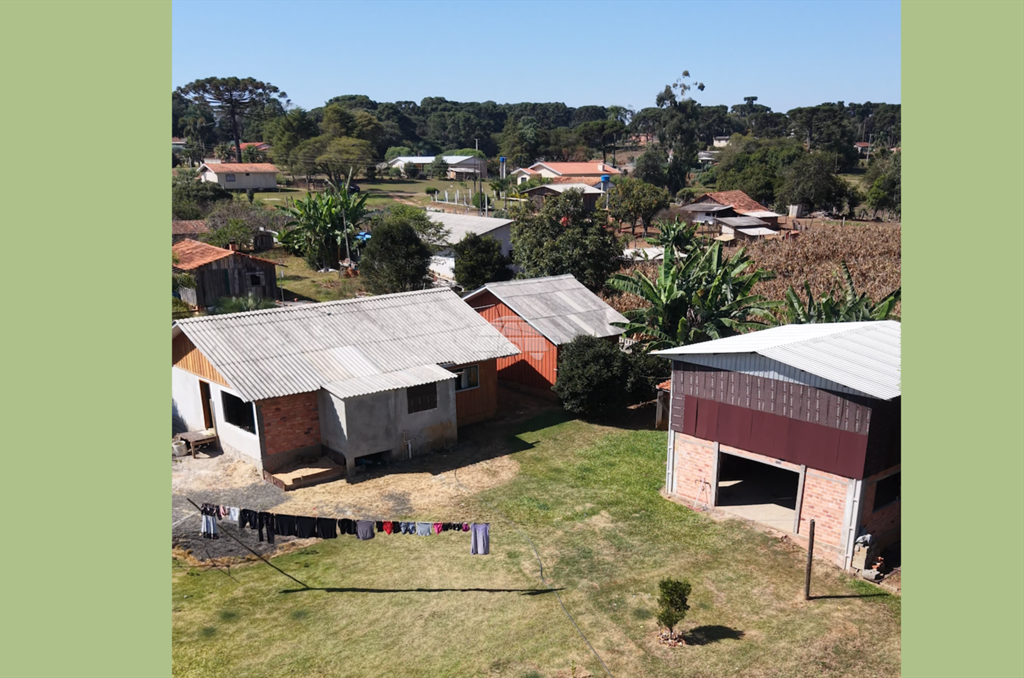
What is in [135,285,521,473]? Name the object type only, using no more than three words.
house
